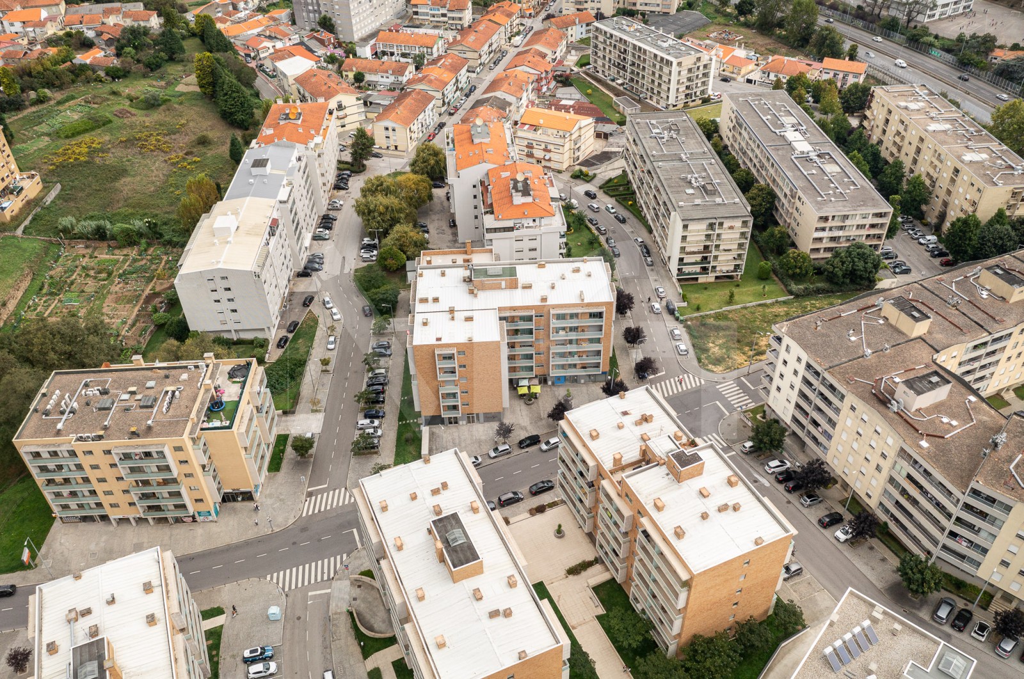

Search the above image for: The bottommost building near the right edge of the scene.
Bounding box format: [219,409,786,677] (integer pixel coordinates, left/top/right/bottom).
[793,588,976,679]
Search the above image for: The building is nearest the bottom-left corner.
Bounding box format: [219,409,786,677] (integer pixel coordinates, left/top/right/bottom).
[21,545,210,679]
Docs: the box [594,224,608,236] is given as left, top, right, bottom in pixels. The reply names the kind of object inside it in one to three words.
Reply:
vehicle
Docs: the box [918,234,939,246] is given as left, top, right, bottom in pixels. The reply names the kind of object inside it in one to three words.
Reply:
vehicle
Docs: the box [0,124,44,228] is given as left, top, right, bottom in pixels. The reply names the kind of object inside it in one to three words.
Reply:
building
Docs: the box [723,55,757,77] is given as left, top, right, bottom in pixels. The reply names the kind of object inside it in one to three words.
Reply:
house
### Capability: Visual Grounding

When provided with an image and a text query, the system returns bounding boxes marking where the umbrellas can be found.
[518,387,528,400]
[529,379,539,386]
[531,386,541,399]
[519,379,529,387]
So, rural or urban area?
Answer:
urban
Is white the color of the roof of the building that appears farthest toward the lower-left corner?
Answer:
Yes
